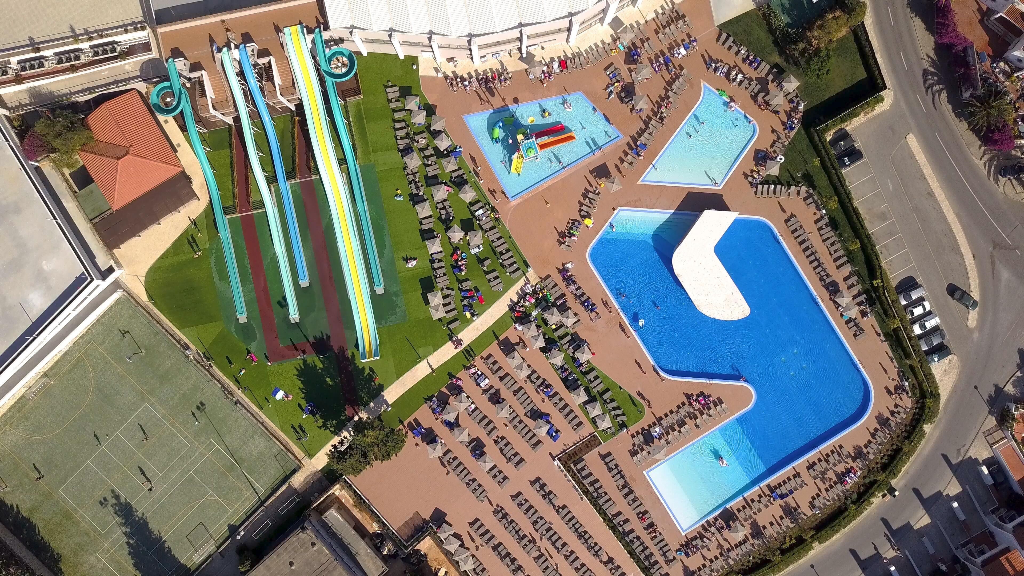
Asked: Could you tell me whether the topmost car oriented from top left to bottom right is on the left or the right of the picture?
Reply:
right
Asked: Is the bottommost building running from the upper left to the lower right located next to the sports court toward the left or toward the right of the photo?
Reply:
left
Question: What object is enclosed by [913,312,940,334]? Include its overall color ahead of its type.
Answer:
white car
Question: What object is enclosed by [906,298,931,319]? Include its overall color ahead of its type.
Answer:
white car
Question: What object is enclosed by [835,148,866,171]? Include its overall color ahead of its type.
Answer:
black car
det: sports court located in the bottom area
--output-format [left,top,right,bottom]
[0,297,299,576]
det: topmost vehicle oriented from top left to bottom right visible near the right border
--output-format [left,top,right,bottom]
[946,285,977,309]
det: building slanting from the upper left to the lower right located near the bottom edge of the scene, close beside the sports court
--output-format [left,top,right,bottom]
[306,501,392,576]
